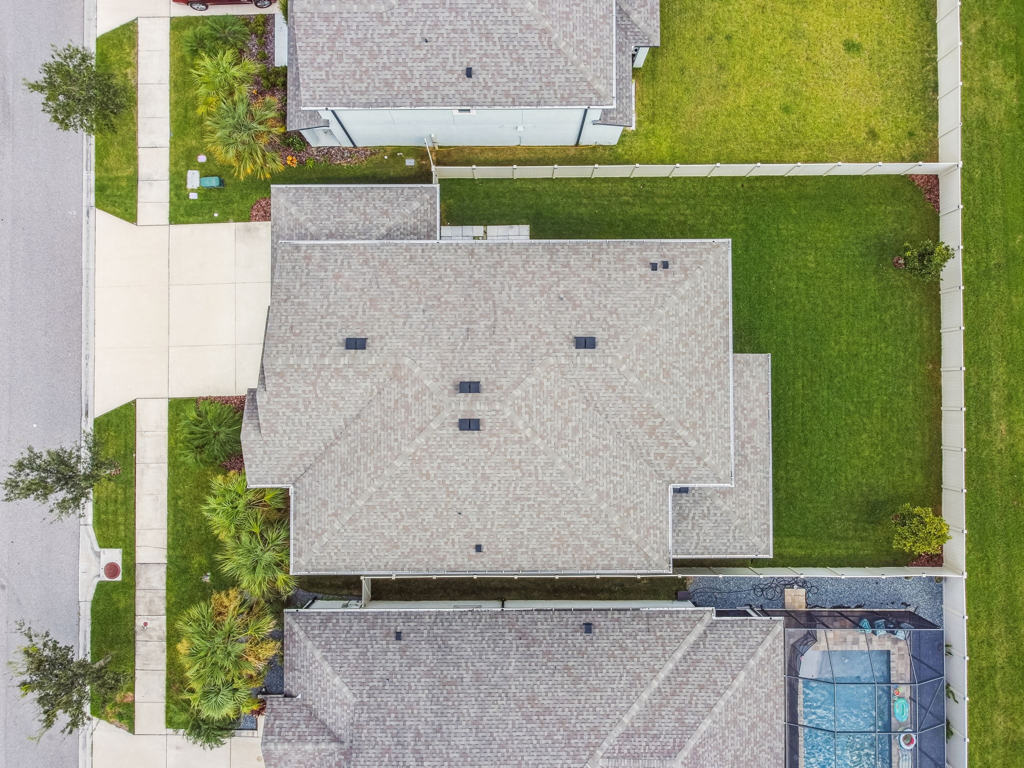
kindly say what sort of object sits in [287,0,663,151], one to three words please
house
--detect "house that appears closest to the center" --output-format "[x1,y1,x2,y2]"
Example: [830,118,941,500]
[241,183,774,577]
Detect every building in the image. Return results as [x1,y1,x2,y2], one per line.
[261,598,786,768]
[287,0,663,151]
[241,183,774,577]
